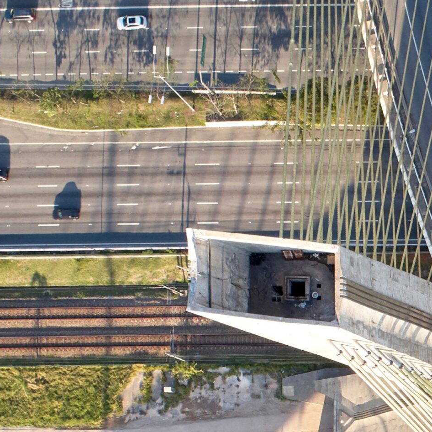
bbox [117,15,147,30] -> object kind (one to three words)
car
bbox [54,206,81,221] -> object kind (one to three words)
car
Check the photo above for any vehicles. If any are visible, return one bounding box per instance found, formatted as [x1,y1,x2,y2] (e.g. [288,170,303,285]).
[54,206,81,221]
[117,15,147,30]
[0,168,8,183]
[5,6,37,23]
